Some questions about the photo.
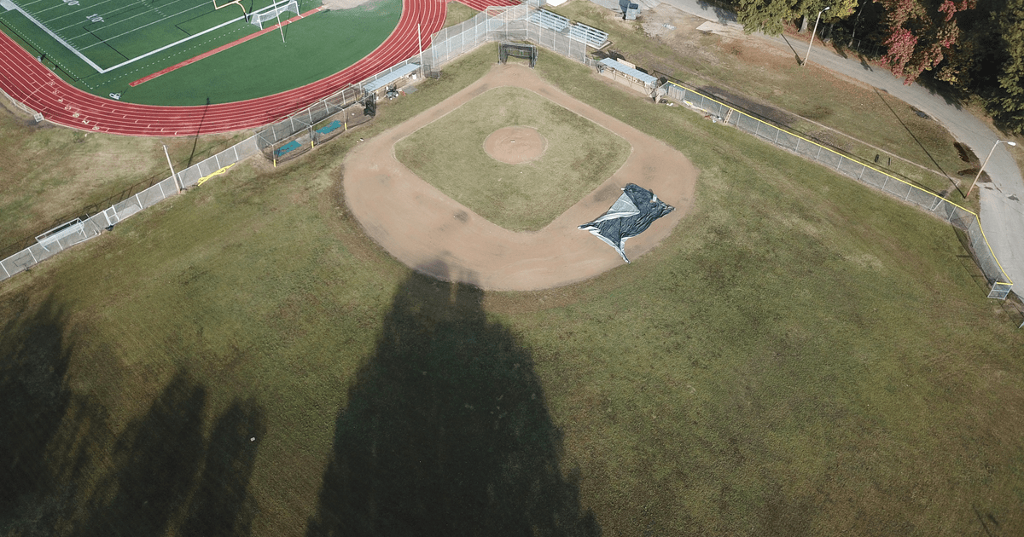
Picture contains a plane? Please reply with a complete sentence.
No, there isn't any plane down there.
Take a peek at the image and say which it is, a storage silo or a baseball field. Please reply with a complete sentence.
The image shows a baseball field.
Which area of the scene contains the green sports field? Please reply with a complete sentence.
The green sports field is in the top left part of the image.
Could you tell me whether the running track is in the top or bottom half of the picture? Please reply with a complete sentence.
The top half of the photo is where the running track is.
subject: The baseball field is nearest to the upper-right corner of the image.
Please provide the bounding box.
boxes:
[341,62,698,292]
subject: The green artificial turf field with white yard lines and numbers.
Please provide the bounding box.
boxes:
[0,0,402,105]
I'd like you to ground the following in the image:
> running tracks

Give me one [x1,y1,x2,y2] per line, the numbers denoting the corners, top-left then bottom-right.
[0,0,529,138]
